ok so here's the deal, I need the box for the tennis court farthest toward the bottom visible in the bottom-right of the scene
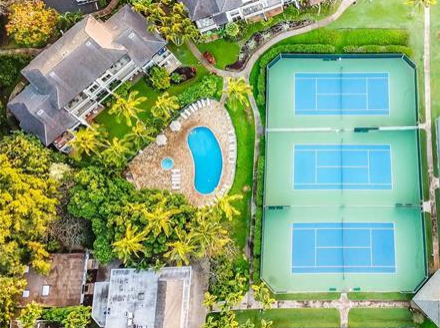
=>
[263,206,426,292]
